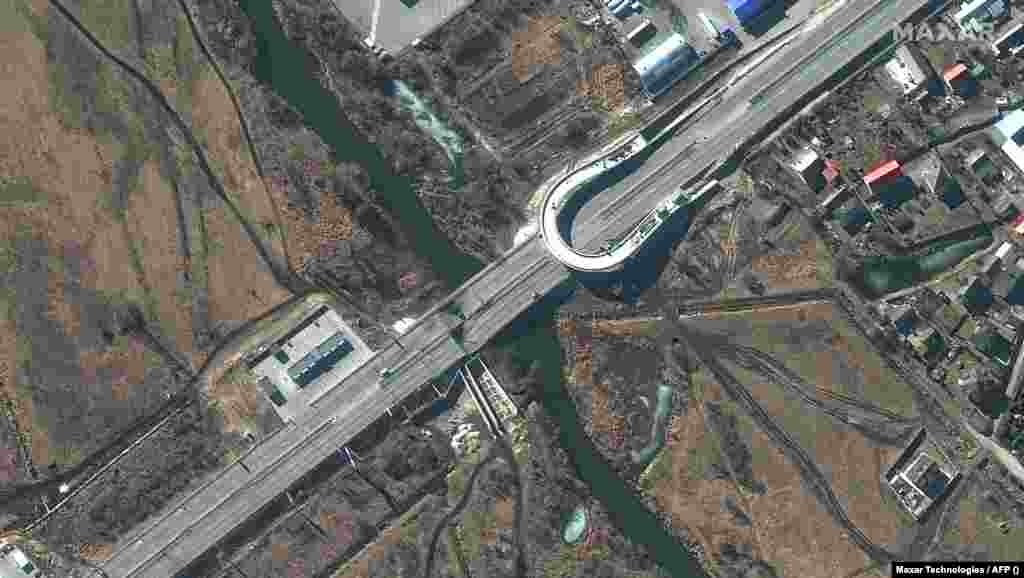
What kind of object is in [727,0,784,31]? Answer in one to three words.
building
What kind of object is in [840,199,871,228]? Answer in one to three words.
house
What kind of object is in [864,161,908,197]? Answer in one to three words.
house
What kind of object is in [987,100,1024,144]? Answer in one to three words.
building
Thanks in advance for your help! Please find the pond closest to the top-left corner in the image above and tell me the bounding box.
[388,74,466,184]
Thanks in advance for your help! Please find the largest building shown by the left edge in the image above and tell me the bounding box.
[4,540,35,572]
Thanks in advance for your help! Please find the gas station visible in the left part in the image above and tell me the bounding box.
[289,329,357,388]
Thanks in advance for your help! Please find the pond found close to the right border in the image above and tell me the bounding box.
[860,228,989,287]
